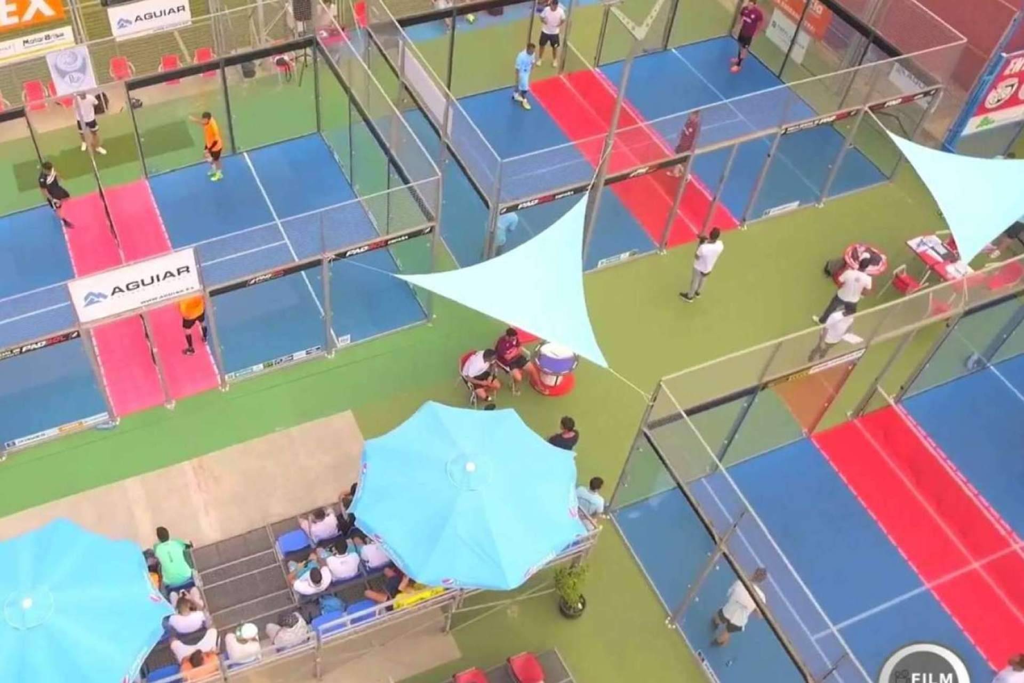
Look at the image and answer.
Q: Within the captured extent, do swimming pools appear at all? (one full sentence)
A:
No, there is no swimming pool in the image.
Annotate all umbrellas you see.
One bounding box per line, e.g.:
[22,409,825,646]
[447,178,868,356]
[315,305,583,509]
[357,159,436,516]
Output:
[0,513,181,683]
[348,399,589,600]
